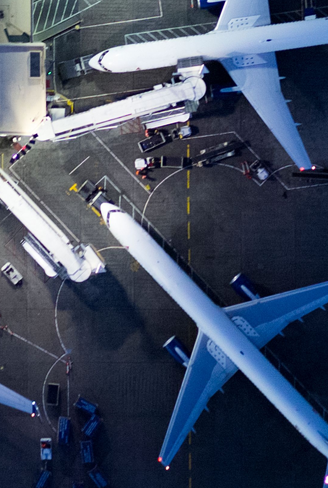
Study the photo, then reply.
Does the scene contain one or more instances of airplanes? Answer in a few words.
Yes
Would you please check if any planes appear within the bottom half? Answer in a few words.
Yes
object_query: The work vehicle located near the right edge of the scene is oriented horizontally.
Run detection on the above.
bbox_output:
[293,167,328,183]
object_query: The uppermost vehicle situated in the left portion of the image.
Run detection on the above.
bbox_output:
[57,52,98,84]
